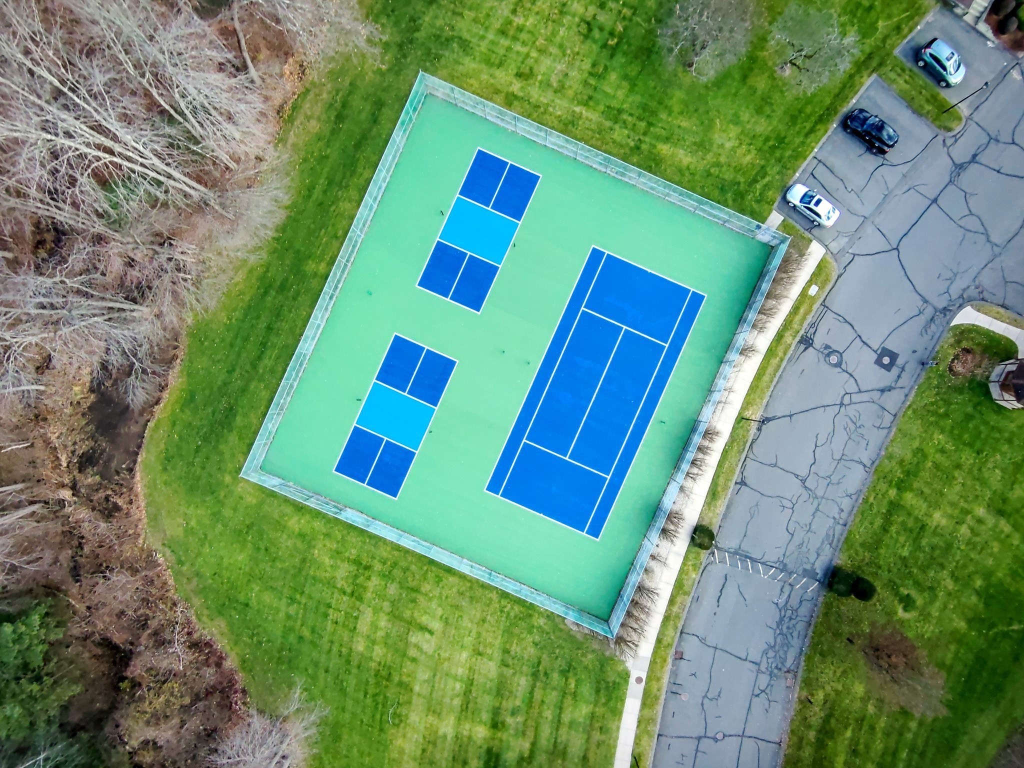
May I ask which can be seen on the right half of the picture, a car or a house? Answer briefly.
car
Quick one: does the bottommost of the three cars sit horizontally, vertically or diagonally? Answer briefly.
diagonally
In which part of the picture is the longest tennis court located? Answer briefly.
center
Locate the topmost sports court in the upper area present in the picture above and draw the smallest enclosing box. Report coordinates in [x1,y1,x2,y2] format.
[417,147,542,314]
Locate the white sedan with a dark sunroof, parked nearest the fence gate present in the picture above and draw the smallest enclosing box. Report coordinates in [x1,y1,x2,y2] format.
[786,183,840,227]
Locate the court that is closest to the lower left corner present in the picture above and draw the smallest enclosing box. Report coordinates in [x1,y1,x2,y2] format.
[334,333,459,500]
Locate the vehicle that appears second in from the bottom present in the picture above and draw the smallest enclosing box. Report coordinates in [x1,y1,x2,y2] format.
[843,106,901,154]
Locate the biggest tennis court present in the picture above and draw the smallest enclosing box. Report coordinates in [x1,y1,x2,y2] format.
[485,246,706,540]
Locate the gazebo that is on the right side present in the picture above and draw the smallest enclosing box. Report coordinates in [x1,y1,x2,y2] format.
[989,359,1024,408]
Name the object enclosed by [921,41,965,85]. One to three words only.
car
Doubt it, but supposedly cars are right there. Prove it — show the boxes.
[921,41,965,85]
[843,106,901,154]
[786,183,840,227]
